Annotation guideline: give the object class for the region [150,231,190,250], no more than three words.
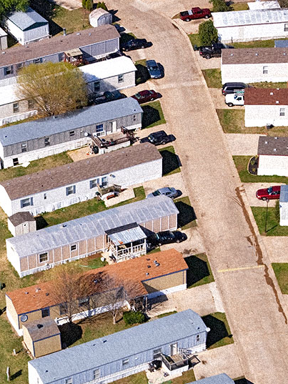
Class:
car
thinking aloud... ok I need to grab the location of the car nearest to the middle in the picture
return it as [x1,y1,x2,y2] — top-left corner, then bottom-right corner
[144,188,183,201]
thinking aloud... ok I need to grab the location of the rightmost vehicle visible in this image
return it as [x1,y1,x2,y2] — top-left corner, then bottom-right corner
[255,186,279,202]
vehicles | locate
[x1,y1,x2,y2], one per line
[255,186,279,202]
[175,8,214,25]
[195,41,236,60]
[137,129,176,145]
[119,39,153,52]
[218,79,255,98]
[132,90,164,106]
[150,231,190,250]
[146,59,162,81]
[114,22,136,35]
[144,188,183,201]
[221,93,244,111]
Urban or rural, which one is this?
urban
